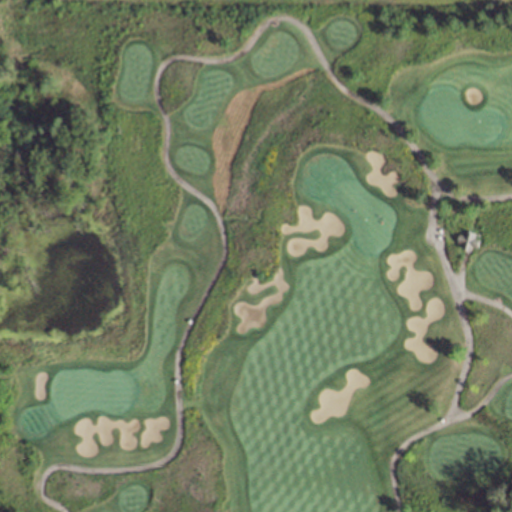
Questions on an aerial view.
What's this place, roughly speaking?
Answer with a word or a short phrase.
golf course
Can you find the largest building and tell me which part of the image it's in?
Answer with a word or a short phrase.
right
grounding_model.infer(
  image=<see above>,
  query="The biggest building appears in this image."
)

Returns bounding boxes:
[463,230,482,256]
